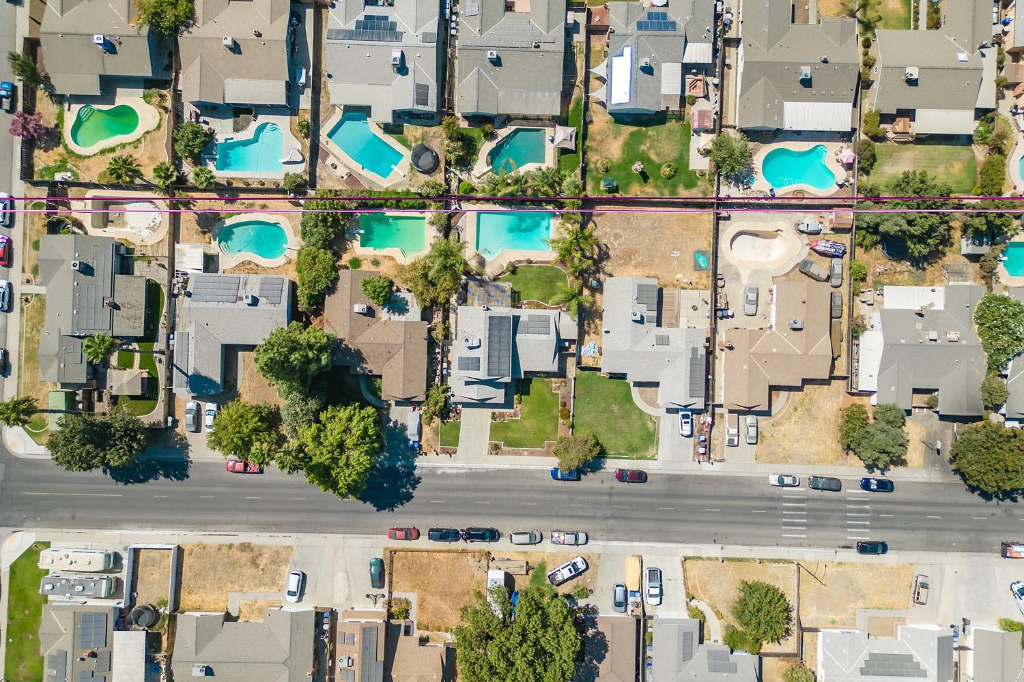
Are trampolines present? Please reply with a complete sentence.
Yes, looking at the shot, I can spot a trampoline.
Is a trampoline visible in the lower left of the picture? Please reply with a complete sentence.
Yes, in the lower left of the picture there is a trampoline.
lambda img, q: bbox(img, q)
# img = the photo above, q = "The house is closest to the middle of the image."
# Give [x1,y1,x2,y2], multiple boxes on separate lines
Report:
[450,304,578,405]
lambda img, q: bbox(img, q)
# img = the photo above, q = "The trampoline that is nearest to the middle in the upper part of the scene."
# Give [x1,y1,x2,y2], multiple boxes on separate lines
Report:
[410,143,439,174]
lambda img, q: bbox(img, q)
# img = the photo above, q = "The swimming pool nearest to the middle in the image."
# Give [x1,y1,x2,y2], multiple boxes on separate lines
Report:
[474,212,553,263]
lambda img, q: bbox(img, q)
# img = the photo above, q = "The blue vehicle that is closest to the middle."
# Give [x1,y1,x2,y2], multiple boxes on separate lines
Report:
[548,467,579,481]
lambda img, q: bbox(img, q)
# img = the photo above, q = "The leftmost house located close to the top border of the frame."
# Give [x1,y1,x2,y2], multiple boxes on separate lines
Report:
[41,0,159,100]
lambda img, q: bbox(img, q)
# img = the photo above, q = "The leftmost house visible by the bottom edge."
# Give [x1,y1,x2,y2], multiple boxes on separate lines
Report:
[34,601,153,682]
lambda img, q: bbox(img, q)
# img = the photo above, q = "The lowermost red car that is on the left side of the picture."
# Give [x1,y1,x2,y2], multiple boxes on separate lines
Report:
[388,526,420,541]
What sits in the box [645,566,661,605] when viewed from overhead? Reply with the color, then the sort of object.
white vehicle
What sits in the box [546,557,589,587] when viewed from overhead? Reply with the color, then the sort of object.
white truck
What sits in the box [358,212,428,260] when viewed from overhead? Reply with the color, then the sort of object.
green swimming pool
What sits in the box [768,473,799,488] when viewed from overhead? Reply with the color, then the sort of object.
white car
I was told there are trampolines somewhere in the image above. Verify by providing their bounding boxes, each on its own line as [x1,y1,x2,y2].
[410,143,439,174]
[127,600,160,632]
